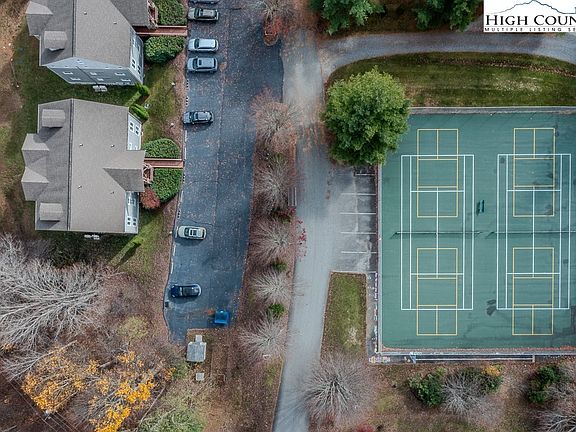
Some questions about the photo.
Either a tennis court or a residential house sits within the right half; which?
tennis court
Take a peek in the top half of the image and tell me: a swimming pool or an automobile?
automobile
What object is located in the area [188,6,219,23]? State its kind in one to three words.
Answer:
car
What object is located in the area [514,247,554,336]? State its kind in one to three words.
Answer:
sports court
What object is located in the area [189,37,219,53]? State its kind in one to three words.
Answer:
car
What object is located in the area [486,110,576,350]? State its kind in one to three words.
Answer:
tennis court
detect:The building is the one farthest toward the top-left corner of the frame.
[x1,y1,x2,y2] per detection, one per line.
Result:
[27,0,161,82]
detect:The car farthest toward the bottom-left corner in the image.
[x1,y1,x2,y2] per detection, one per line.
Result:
[170,284,202,298]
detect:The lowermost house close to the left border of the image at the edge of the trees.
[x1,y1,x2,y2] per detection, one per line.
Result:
[23,98,156,232]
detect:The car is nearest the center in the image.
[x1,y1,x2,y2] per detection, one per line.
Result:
[177,226,207,240]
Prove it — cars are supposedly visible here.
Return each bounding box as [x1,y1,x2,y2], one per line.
[188,6,219,23]
[188,56,218,73]
[177,226,207,240]
[170,284,202,298]
[189,37,219,53]
[183,109,214,125]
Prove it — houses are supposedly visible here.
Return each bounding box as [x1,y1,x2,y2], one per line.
[27,0,161,82]
[23,98,156,232]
